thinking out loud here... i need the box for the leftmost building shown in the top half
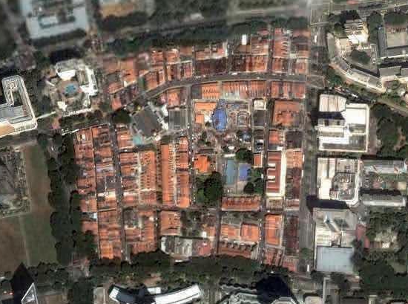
[0,76,41,132]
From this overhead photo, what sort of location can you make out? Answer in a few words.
residential area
